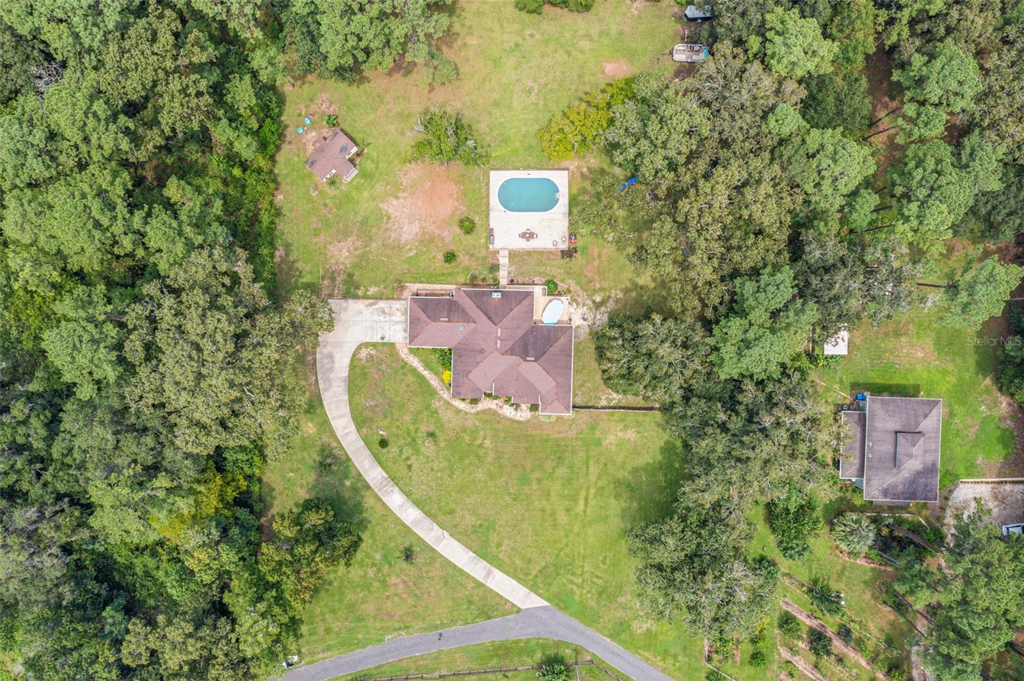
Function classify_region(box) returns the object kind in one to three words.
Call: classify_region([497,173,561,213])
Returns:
swimming pool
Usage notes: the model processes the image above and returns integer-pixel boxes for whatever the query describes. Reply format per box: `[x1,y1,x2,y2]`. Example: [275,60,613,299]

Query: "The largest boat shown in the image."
[673,42,713,61]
